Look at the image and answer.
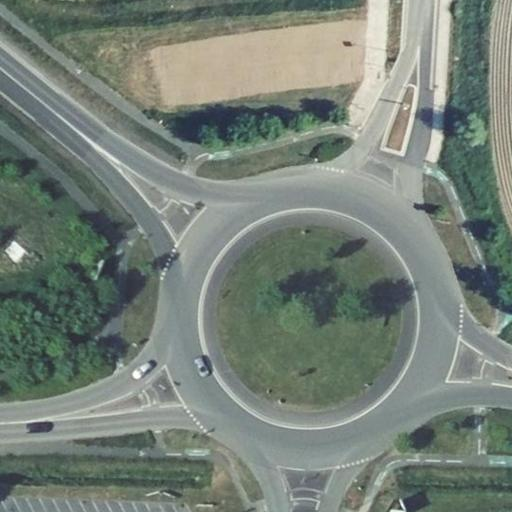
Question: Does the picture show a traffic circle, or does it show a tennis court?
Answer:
traffic circle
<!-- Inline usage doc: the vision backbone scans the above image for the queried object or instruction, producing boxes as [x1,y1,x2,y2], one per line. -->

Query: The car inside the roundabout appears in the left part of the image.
[194,356,209,378]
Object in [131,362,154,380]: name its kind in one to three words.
car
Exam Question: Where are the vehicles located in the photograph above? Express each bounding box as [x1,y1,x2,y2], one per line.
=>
[131,362,154,380]
[27,422,54,432]
[194,356,209,378]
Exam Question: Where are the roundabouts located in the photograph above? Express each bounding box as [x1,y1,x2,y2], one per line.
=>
[158,166,462,471]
